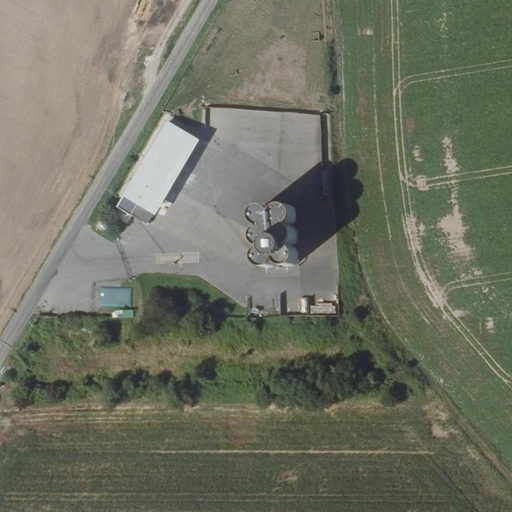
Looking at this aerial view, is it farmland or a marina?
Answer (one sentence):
The area seen from above is farmland.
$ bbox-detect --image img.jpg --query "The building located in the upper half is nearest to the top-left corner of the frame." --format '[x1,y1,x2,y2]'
[117,121,200,224]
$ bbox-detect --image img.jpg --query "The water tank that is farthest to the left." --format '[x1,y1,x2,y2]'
[101,287,134,308]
